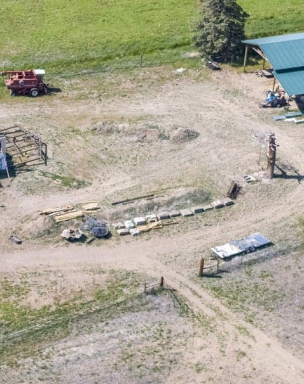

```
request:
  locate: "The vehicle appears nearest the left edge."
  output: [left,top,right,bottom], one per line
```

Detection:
[0,70,51,101]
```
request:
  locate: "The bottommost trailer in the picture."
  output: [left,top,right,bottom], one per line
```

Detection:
[210,233,271,261]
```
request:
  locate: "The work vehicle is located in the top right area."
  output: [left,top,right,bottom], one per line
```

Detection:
[259,90,287,108]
